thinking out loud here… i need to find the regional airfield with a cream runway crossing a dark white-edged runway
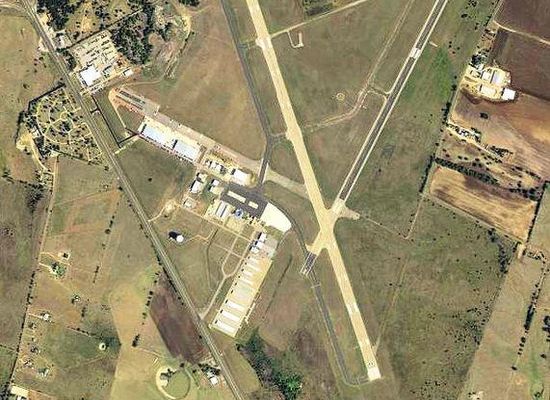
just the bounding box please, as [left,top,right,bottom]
[116,0,447,383]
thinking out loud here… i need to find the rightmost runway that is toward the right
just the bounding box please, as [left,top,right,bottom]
[338,0,447,205]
